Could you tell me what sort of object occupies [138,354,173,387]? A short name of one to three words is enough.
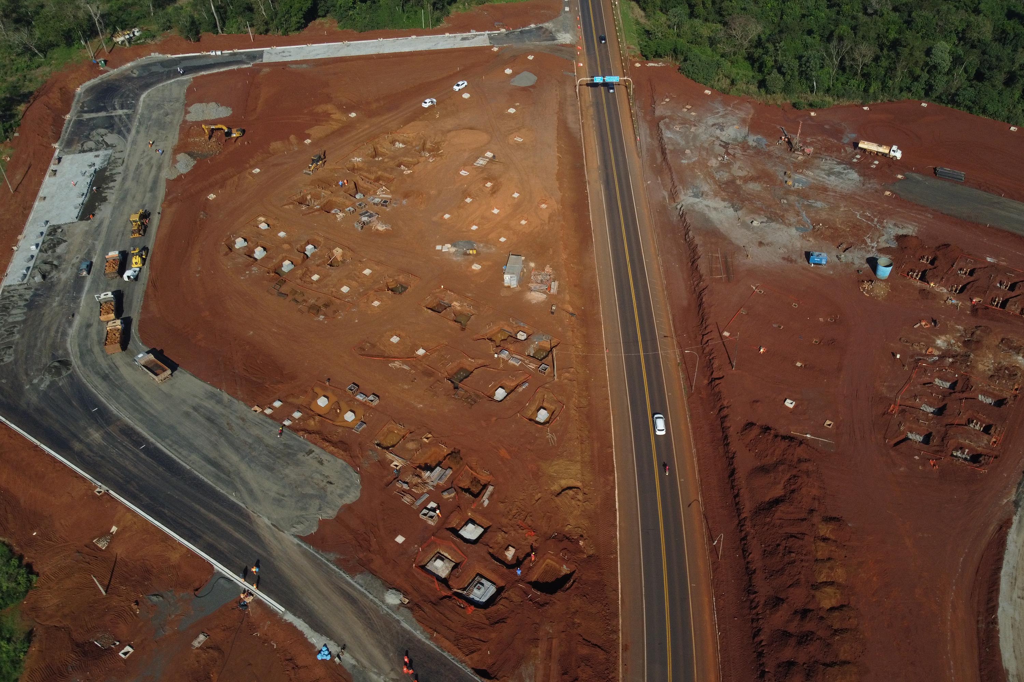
truck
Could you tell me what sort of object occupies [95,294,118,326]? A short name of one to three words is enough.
truck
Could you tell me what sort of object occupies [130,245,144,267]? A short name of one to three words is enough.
work vehicle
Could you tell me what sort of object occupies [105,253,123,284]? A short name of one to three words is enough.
vehicle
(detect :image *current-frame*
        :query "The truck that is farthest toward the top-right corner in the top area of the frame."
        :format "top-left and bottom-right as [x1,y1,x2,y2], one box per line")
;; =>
[855,135,901,158]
